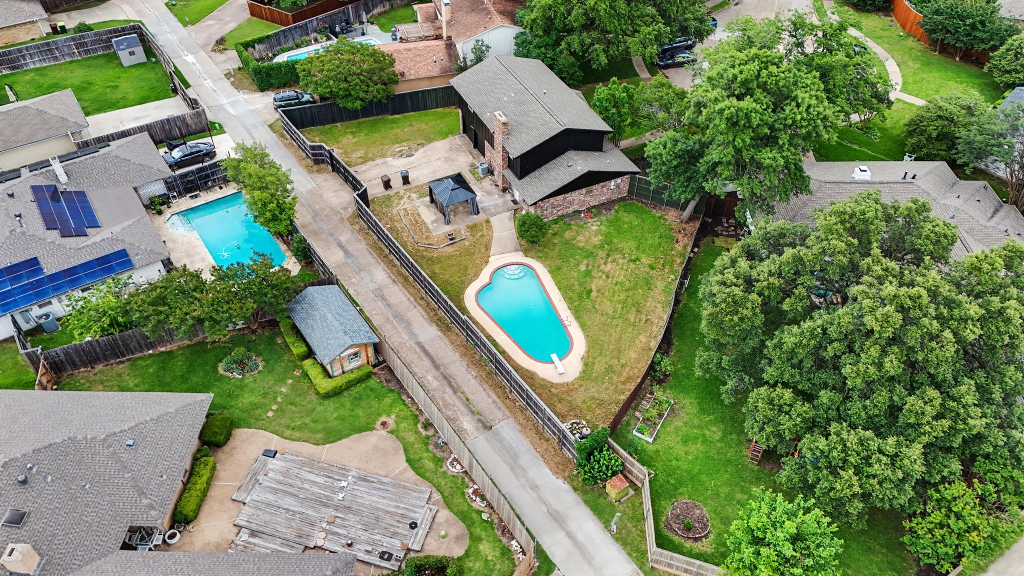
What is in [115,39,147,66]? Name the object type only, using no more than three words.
shed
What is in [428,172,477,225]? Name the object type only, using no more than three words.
gazebo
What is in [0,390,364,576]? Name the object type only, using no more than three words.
house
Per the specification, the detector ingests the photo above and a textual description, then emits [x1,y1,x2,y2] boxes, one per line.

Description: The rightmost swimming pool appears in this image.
[474,261,573,363]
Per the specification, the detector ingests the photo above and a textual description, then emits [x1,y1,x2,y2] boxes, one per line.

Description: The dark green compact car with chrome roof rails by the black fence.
[271,85,315,108]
